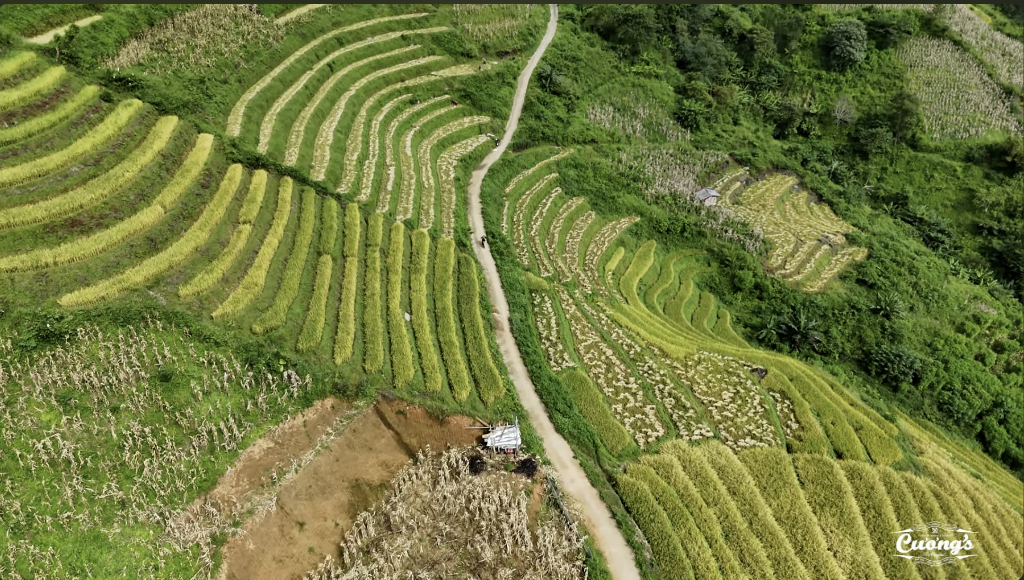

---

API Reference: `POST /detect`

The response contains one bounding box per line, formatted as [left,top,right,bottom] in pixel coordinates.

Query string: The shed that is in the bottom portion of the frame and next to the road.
[461,418,524,465]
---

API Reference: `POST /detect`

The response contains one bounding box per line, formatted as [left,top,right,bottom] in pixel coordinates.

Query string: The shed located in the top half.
[693,187,726,208]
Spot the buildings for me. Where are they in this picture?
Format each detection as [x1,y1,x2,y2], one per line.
[461,418,524,465]
[693,187,726,208]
